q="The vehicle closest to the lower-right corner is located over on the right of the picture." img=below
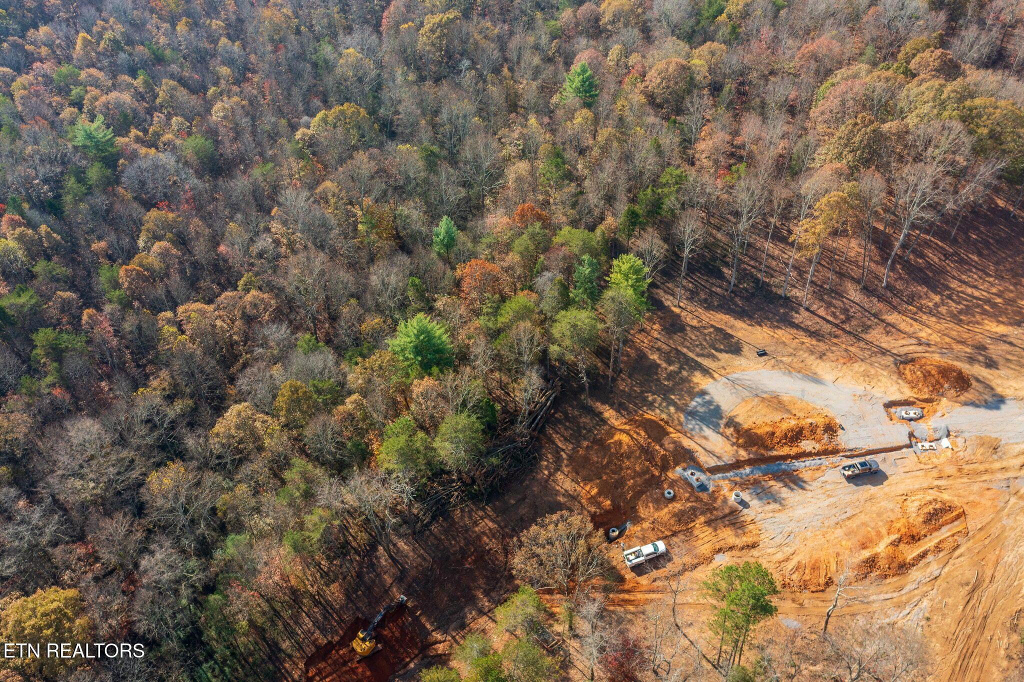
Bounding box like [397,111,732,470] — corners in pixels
[841,461,883,480]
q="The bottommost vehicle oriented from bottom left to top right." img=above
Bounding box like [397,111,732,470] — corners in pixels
[351,600,402,661]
